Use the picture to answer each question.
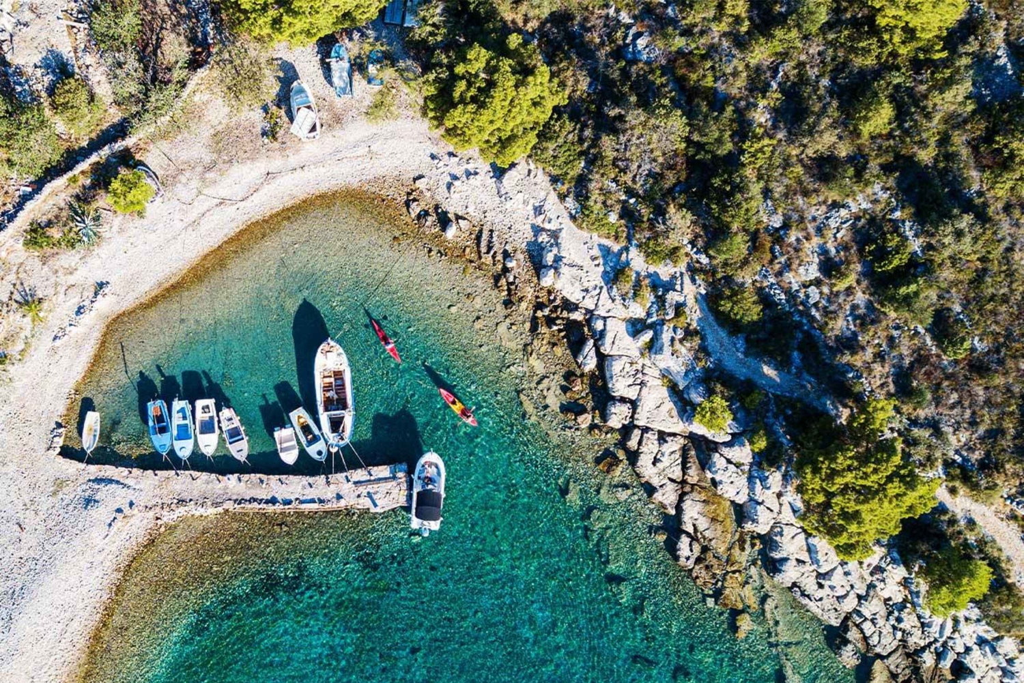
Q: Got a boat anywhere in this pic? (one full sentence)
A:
Yes, this view includes a boat.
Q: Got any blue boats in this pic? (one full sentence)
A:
Yes, you can see a blue boat in this photo.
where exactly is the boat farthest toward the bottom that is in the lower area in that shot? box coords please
[408,451,446,539]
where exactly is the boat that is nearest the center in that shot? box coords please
[439,388,477,427]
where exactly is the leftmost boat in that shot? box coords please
[83,411,104,463]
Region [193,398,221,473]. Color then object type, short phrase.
white boat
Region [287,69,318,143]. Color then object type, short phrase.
white boat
